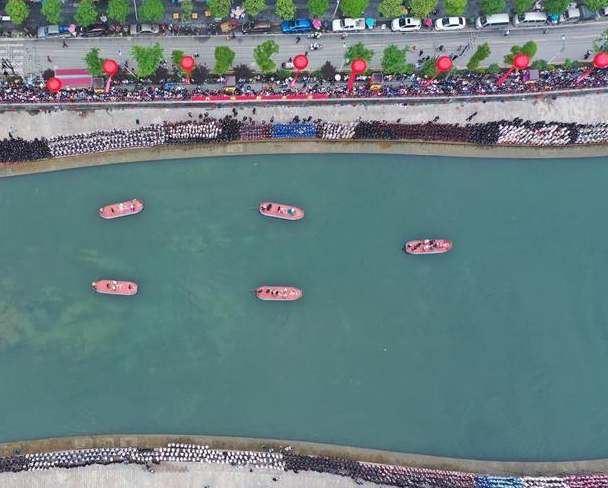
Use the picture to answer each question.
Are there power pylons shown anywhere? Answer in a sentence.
No, the picture doesn't show any power pylon.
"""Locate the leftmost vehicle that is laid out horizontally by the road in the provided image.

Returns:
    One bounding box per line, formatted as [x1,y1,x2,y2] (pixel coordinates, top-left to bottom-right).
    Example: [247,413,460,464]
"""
[38,24,73,40]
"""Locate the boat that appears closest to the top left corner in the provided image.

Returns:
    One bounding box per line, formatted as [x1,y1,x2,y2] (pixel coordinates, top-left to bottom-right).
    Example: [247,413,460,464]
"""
[98,200,144,218]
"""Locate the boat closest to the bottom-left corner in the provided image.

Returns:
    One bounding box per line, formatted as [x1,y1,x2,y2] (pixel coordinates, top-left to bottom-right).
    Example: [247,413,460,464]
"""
[93,280,140,295]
